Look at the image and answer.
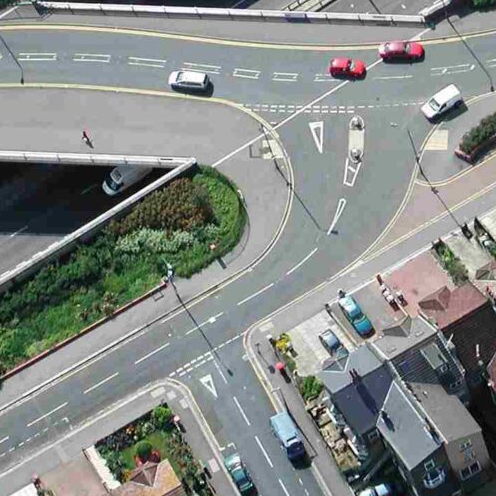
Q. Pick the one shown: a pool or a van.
van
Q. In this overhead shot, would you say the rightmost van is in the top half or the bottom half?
top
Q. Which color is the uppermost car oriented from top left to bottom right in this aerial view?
blue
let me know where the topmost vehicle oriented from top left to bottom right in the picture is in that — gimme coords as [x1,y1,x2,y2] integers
[340,296,375,338]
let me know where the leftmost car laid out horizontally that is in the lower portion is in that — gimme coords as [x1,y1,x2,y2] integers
[359,479,400,496]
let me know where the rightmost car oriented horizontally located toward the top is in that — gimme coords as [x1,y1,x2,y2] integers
[379,42,423,62]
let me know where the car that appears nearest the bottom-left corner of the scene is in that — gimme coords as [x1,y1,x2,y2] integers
[227,454,257,496]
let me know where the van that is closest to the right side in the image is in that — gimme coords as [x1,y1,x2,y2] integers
[423,85,464,122]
